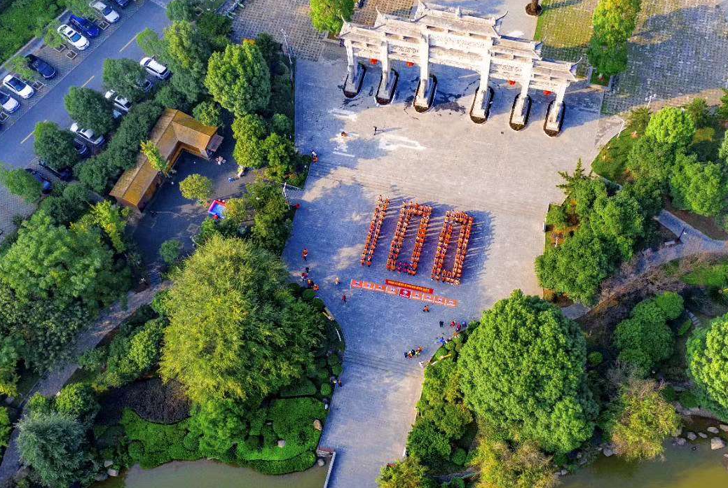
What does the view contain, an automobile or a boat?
automobile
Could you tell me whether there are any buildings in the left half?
Yes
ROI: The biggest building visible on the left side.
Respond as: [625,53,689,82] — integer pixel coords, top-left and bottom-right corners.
[110,103,240,218]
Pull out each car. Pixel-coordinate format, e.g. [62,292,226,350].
[34,160,79,183]
[55,20,94,52]
[65,119,110,151]
[135,52,173,83]
[88,0,125,26]
[130,72,157,95]
[24,165,59,197]
[106,0,134,11]
[23,50,62,82]
[63,9,105,41]
[0,70,41,103]
[102,87,134,114]
[0,85,27,116]
[65,131,95,161]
